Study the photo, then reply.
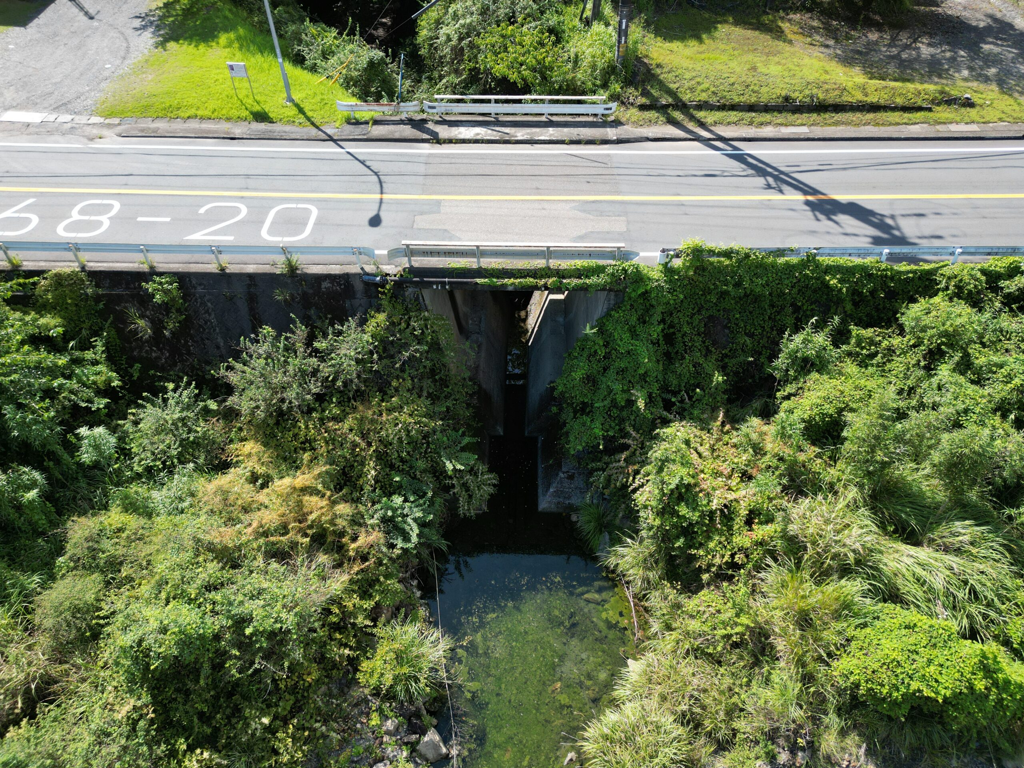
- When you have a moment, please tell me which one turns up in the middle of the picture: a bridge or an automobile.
bridge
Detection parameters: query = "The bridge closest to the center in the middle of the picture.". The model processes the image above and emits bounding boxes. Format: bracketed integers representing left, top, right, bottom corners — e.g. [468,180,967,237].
[407,260,625,522]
